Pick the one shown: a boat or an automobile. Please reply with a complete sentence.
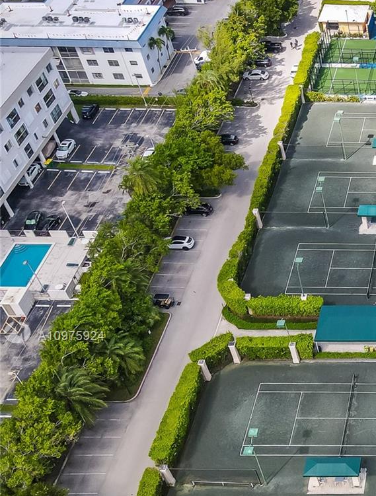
There is an automobile in the scene.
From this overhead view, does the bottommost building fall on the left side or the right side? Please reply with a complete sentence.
It is on the right.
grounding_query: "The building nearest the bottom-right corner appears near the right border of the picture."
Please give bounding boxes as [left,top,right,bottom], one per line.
[316,305,376,352]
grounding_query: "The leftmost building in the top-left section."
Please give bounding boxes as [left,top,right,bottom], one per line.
[0,44,77,215]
